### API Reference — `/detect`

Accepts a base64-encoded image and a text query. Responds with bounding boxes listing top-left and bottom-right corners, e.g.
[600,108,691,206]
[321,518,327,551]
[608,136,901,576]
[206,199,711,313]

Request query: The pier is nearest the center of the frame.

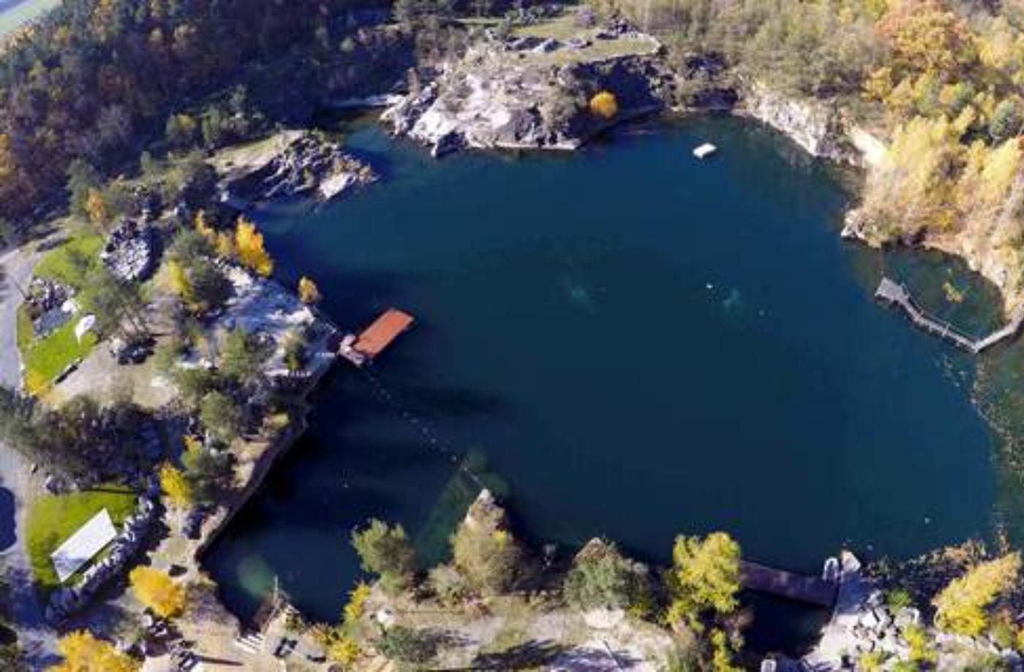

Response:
[340,333,365,369]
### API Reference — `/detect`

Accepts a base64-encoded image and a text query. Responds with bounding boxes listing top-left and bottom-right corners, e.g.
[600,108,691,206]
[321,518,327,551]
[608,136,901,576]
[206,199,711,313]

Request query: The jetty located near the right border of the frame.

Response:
[874,277,1024,359]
